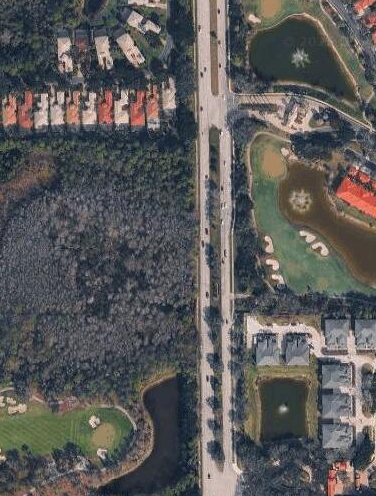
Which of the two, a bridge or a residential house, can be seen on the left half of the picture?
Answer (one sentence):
Looking on the left half of the picture, you will find a residential house.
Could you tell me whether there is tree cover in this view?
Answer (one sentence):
Yes, tree cover shows up in the scene.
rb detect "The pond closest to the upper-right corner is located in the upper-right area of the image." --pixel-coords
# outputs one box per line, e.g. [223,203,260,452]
[248,15,355,100]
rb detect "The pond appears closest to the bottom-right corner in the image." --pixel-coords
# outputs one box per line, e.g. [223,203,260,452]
[258,376,309,439]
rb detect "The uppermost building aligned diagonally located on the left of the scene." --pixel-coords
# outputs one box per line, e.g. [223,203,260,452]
[120,3,158,36]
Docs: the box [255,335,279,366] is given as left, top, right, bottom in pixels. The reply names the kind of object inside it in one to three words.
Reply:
building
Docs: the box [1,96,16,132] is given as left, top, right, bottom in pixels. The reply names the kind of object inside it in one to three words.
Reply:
house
